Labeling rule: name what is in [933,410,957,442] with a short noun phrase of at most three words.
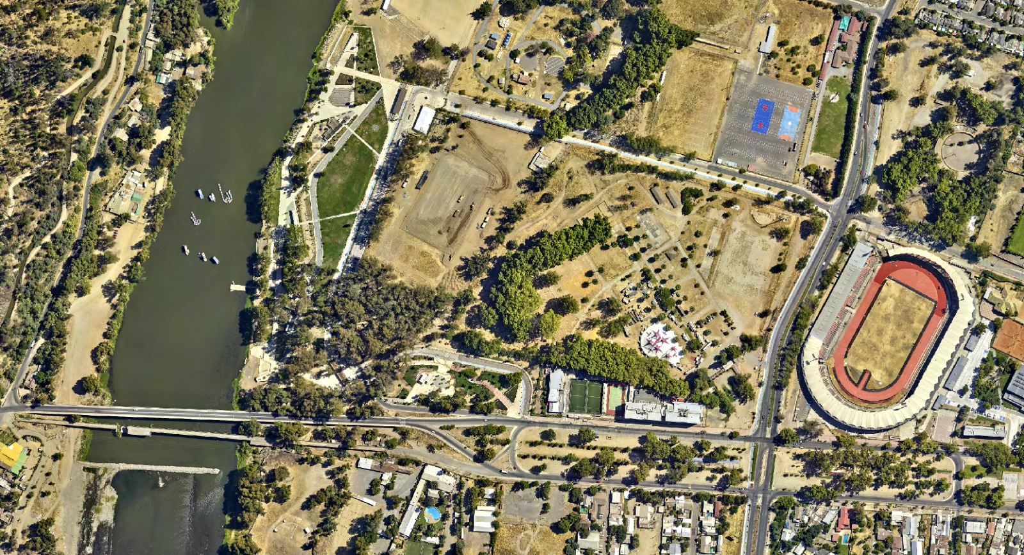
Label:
sports court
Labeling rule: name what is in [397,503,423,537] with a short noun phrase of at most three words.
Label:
house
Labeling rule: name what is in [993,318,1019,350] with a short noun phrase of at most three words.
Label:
tennis court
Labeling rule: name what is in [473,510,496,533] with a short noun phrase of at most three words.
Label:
building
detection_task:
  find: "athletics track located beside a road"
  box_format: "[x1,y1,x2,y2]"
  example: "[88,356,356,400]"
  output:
[830,259,948,407]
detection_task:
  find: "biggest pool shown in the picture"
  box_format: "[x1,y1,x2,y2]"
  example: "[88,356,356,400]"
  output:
[424,506,441,523]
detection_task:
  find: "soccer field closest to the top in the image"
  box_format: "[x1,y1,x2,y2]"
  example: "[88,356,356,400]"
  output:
[640,49,737,161]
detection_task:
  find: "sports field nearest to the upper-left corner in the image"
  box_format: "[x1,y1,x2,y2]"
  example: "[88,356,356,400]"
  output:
[406,157,490,253]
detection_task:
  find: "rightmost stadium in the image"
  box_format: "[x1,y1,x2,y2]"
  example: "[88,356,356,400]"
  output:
[802,242,979,431]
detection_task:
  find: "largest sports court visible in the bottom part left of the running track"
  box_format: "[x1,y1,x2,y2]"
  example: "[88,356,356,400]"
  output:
[606,383,625,414]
